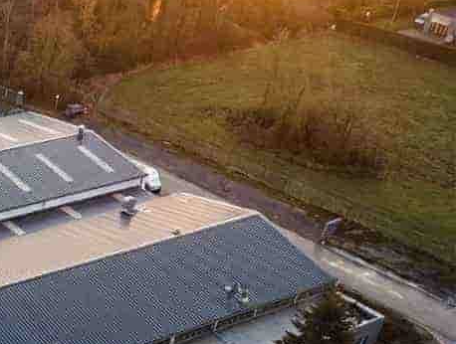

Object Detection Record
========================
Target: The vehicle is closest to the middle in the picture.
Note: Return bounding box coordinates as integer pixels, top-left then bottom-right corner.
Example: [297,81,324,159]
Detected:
[141,162,176,195]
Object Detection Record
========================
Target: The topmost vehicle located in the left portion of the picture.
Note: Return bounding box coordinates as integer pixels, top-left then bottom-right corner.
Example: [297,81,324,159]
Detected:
[61,100,90,118]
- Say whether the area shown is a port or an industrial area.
industrial area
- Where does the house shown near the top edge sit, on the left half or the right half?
right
